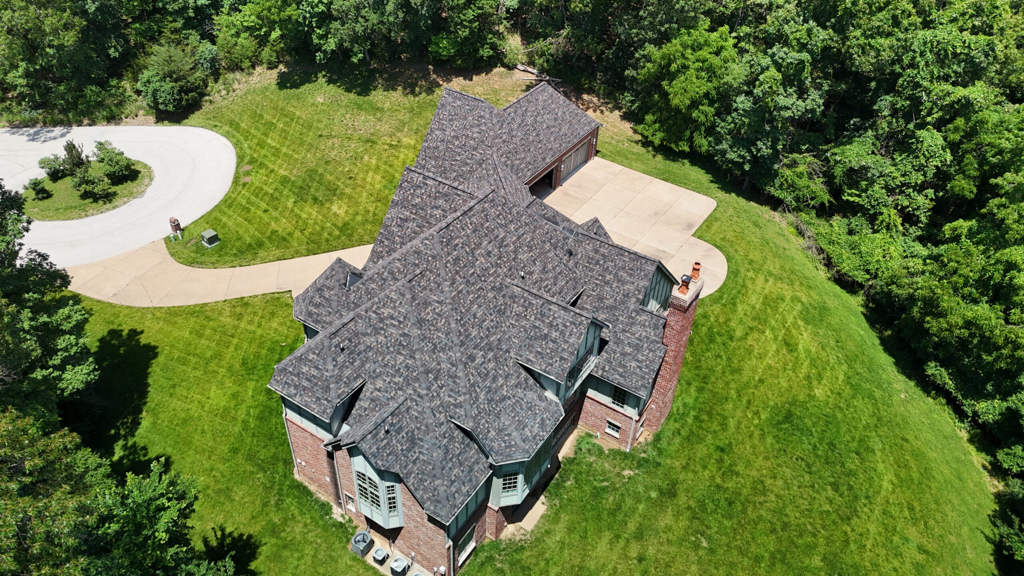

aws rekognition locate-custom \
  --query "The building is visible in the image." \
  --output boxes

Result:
[265,82,703,576]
